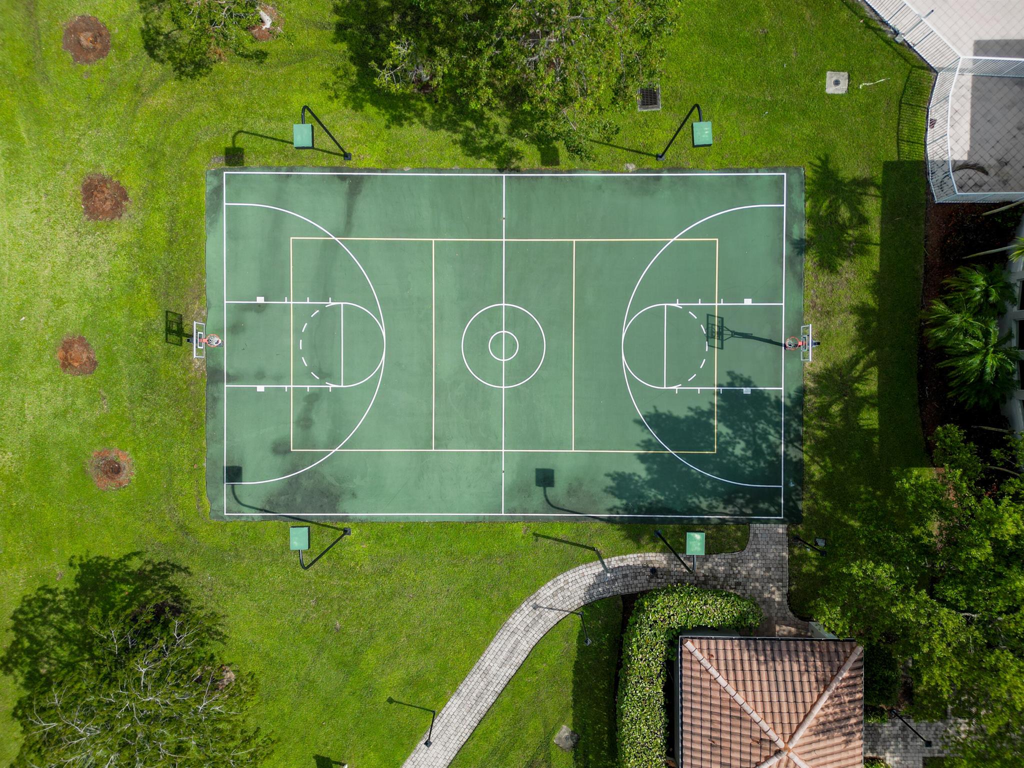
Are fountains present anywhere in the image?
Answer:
No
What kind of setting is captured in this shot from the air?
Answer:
sports ground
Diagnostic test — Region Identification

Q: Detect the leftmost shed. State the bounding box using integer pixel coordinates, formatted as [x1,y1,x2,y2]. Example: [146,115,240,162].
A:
[675,625,865,768]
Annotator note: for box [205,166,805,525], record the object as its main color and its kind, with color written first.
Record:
green basketball court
